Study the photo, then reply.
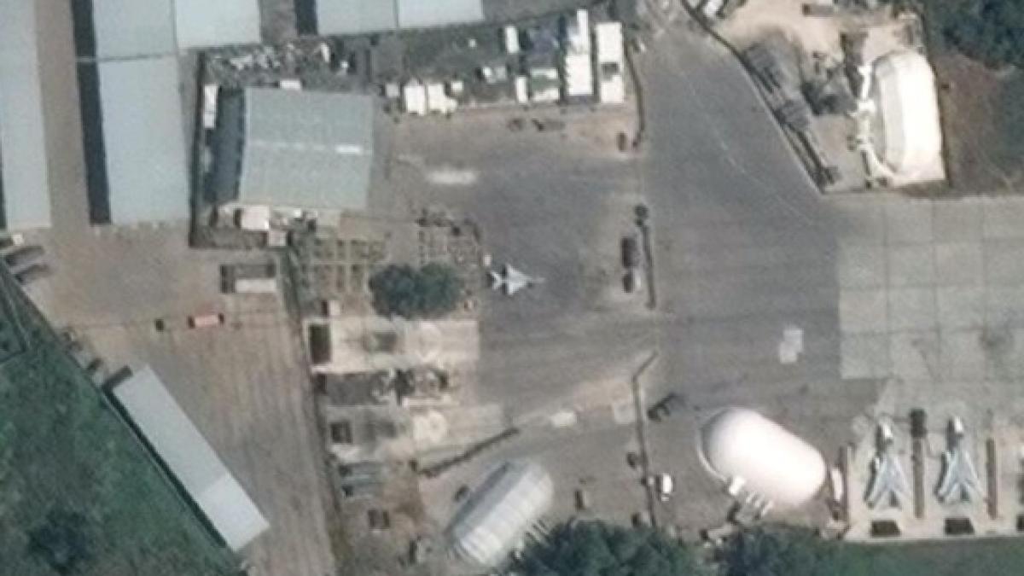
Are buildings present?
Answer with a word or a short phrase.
Yes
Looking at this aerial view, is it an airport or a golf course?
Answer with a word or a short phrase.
airport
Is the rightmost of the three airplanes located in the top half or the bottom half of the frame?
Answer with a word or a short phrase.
bottom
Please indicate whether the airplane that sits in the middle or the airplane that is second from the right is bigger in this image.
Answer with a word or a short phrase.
the airplane that is second from the right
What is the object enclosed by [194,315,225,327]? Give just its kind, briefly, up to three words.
vehicle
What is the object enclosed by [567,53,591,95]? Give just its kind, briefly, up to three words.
building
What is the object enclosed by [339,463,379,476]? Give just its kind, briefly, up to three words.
vehicle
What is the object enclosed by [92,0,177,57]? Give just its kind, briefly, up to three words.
shed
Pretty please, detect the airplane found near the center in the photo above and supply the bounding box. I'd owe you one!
[491,264,538,295]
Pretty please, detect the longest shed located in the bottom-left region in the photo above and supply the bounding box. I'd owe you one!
[113,366,269,551]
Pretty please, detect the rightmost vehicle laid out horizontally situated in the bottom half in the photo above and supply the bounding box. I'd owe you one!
[702,524,732,539]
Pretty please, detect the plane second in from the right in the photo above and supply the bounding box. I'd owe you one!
[866,425,911,512]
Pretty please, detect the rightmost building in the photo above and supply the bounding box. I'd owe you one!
[874,51,946,183]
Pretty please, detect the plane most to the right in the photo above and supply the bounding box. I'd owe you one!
[938,422,982,507]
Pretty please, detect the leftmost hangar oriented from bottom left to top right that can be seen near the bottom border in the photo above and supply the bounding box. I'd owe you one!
[451,464,554,564]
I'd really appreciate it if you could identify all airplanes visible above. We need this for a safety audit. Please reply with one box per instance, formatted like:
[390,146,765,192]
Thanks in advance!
[491,264,538,295]
[866,425,911,512]
[938,422,982,507]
